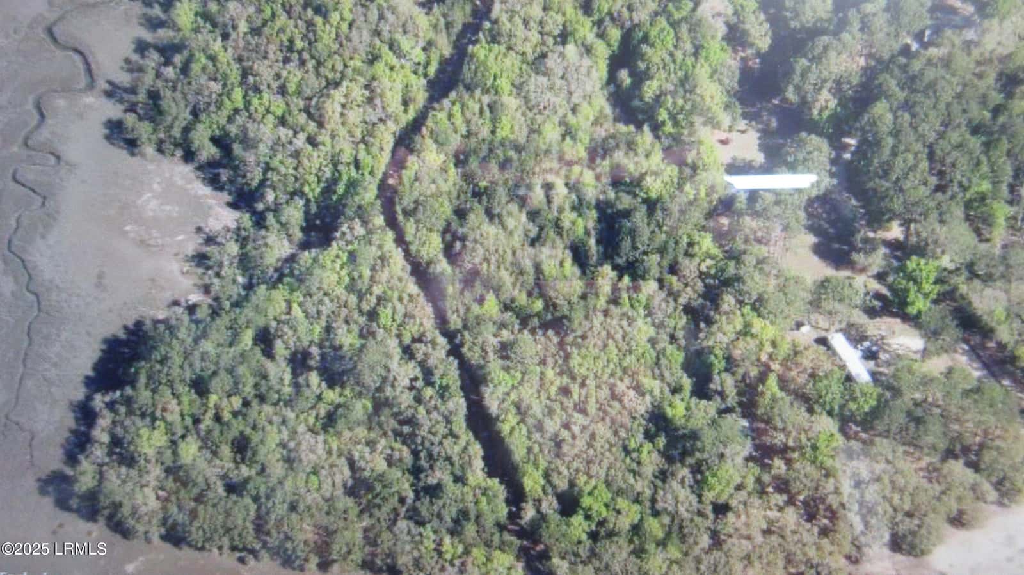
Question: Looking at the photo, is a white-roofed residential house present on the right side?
Yes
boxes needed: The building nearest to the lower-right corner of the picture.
[829,332,873,390]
